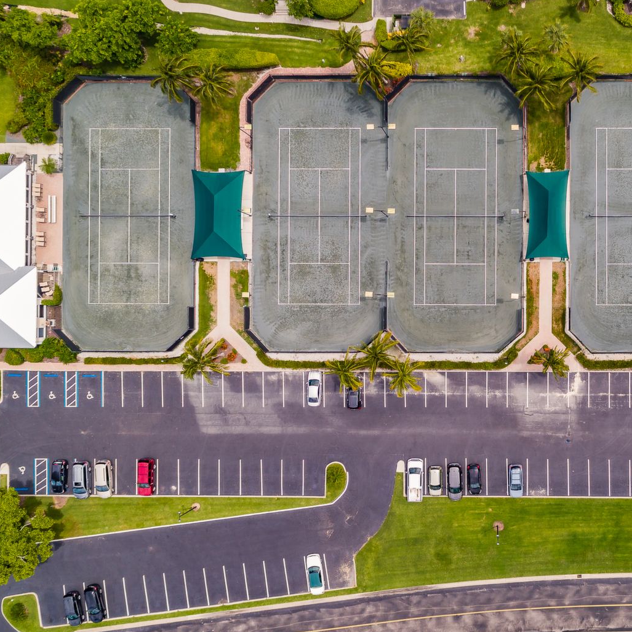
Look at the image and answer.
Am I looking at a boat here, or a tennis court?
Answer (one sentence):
This aerial view contains a tennis court.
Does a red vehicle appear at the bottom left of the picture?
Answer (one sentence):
Yes, a red vehicle appears at the bottom left of the picture.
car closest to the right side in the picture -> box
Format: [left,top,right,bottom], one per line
[507,464,524,498]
